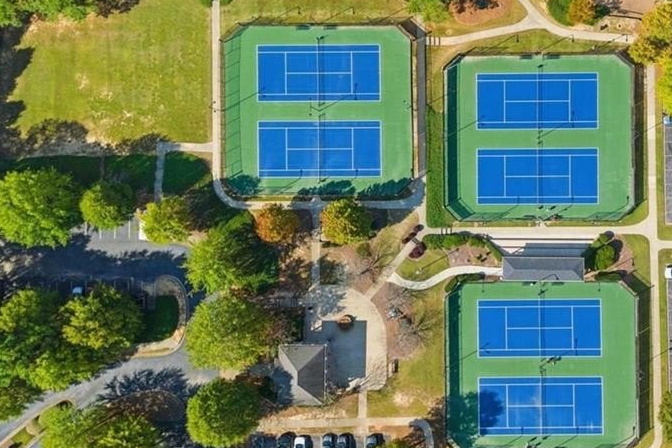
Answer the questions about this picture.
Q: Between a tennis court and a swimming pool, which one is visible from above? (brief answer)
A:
tennis court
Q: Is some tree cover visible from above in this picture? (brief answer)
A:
Yes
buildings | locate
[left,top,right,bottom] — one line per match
[279,336,334,405]
[502,254,585,281]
